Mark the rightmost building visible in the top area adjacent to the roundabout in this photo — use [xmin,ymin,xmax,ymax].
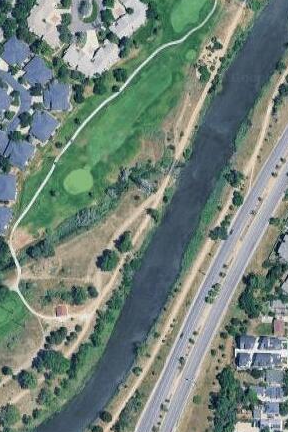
[108,0,148,35]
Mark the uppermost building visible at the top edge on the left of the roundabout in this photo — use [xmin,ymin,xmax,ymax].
[27,0,62,49]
